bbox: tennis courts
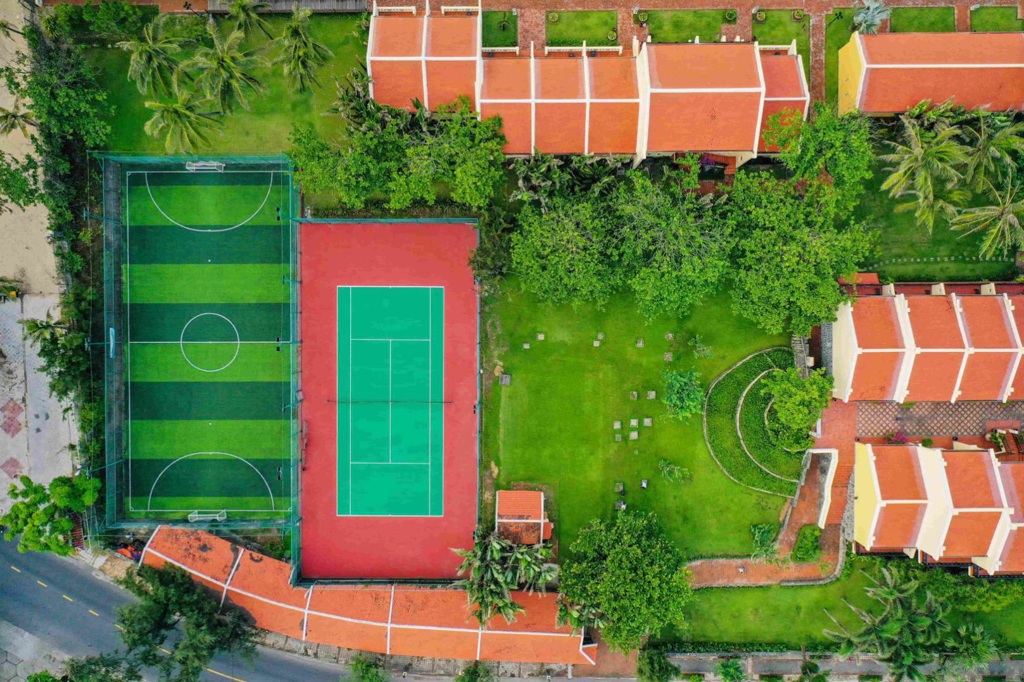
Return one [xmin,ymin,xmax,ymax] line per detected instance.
[302,223,477,578]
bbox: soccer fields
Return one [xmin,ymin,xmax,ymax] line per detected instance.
[122,167,301,518]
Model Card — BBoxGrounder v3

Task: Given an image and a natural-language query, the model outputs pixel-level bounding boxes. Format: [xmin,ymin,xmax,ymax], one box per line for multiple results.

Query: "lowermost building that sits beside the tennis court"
[137,526,597,666]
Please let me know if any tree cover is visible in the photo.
Yes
